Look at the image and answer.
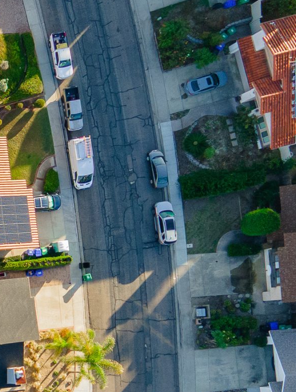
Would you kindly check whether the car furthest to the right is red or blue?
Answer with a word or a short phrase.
blue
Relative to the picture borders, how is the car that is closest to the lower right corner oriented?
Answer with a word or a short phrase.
from top to bottom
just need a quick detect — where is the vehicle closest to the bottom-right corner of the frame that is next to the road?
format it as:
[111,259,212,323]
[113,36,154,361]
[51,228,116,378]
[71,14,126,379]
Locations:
[153,202,177,246]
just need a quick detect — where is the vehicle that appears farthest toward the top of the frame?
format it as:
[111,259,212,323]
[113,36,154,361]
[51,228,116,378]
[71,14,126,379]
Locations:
[50,31,74,80]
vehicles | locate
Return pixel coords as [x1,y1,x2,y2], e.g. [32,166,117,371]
[183,71,228,96]
[145,149,167,190]
[70,135,97,190]
[153,202,177,246]
[61,85,85,132]
[50,31,74,80]
[33,194,64,213]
